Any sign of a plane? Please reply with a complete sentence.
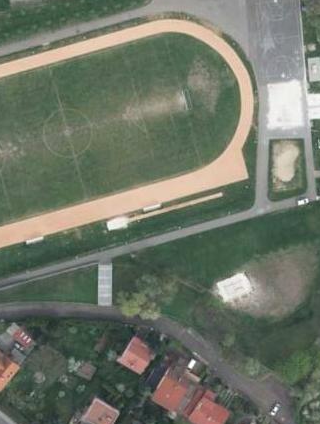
No, there isn't any plane down there.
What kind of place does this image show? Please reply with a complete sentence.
This looks like a sports ground.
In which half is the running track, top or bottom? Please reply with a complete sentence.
The top half of the photo is where the running track is.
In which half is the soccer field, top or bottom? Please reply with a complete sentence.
The top half of the photo is where the soccer field is.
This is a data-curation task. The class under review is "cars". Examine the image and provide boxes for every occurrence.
[297,199,309,205]
[272,404,280,416]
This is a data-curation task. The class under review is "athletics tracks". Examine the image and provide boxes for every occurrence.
[0,19,254,250]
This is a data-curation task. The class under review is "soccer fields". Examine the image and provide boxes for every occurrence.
[0,33,241,226]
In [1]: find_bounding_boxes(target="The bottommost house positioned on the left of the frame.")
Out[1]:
[82,398,120,424]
